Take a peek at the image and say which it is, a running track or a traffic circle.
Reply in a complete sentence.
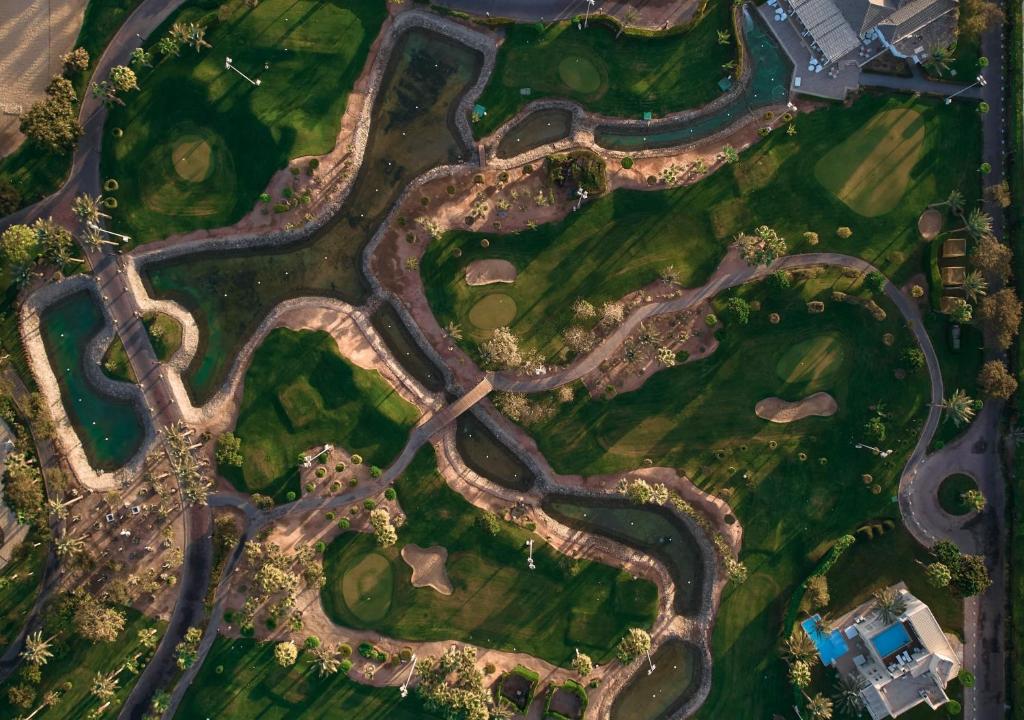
It is a traffic circle that can be seen here.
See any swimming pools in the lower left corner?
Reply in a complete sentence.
No, no swimming pool can be made out in the lower left corner.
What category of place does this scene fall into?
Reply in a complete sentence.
The area seen from above is a golf course.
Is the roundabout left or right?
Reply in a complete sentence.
The roundabout is on the right side of the image.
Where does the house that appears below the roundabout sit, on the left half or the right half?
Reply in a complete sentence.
The house that appears below the roundabout appears in the right half of the scene.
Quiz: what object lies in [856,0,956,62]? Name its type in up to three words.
building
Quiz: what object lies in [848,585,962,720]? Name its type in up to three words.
house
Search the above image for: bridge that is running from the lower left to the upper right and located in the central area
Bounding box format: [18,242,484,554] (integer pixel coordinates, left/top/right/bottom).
[437,377,494,423]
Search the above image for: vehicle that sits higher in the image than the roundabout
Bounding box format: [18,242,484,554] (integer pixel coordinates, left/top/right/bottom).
[951,324,964,348]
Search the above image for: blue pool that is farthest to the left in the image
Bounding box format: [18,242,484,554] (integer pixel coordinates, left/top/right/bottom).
[800,612,850,667]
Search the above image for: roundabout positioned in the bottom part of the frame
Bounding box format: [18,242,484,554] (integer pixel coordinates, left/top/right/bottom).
[911,418,1003,552]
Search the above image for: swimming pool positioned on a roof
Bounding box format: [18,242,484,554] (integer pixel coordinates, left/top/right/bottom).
[870,620,914,659]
